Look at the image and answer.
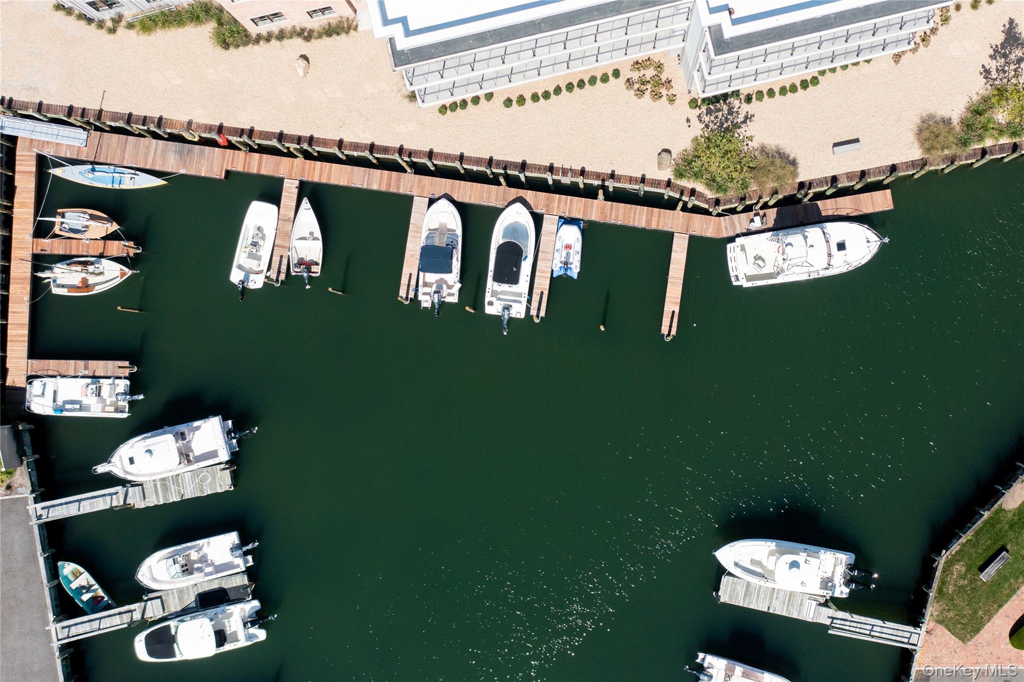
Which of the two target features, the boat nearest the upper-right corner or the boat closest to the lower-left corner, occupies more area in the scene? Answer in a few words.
the boat nearest the upper-right corner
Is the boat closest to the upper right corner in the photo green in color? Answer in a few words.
No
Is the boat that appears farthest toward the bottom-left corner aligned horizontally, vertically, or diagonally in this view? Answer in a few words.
diagonally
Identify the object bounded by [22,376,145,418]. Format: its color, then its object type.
white boat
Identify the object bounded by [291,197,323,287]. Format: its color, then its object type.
white boat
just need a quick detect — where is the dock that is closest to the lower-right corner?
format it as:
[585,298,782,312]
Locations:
[720,575,820,623]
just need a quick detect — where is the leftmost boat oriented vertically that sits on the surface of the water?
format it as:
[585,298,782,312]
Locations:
[231,201,279,300]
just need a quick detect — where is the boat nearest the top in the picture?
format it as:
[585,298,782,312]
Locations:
[33,149,171,189]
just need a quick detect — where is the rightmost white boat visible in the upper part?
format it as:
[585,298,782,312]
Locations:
[726,219,889,288]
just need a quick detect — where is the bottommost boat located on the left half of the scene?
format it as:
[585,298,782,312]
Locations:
[133,599,276,661]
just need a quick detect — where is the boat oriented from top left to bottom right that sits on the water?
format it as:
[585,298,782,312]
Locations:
[58,562,118,613]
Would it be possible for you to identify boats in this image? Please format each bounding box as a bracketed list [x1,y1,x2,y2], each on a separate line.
[19,257,139,295]
[87,415,258,481]
[291,197,323,287]
[133,531,257,590]
[726,219,889,288]
[687,653,791,682]
[58,562,118,613]
[485,202,536,333]
[33,149,171,189]
[37,208,121,239]
[22,376,145,418]
[419,197,462,316]
[551,224,583,277]
[712,539,875,597]
[231,201,279,300]
[133,599,276,661]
